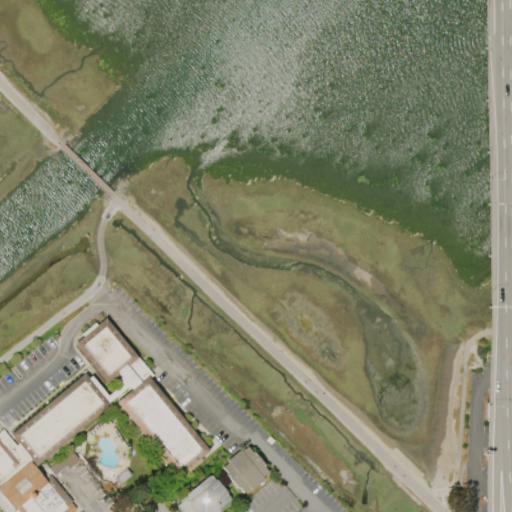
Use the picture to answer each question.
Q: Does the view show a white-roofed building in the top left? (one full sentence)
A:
No, there's no white-roofed building to be seen in the top left.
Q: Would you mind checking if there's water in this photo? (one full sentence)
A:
Yes, some water is visible.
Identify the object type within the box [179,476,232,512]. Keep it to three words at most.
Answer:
house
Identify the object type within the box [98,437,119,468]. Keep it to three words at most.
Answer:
swimming pool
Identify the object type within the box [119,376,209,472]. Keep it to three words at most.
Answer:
building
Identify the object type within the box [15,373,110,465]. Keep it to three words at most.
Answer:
building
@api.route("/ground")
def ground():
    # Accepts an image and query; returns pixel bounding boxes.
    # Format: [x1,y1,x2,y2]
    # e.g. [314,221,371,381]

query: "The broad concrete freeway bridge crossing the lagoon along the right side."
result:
[486,0,512,512]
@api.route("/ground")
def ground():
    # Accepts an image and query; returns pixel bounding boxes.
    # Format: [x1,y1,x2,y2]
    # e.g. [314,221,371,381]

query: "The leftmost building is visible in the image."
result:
[0,430,32,486]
